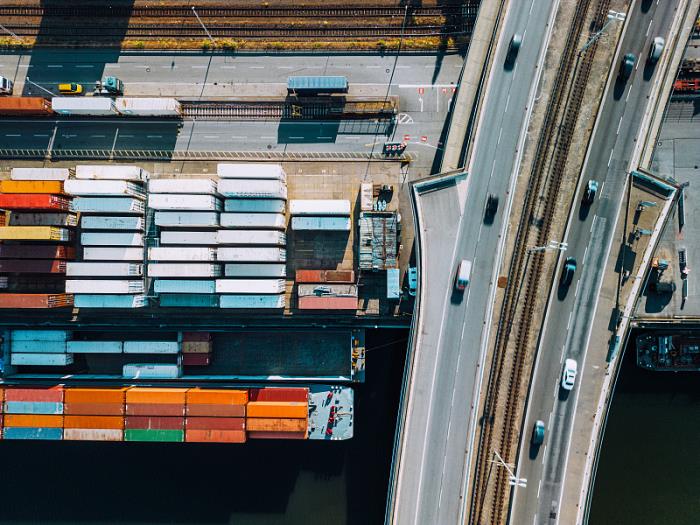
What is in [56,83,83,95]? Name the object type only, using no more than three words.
vehicle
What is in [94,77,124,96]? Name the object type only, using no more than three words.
vehicle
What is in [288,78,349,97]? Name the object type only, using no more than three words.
trailer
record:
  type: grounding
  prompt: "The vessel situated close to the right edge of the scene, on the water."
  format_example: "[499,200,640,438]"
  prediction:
[632,333,700,371]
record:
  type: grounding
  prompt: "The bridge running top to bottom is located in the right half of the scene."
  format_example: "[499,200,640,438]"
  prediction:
[383,0,694,525]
